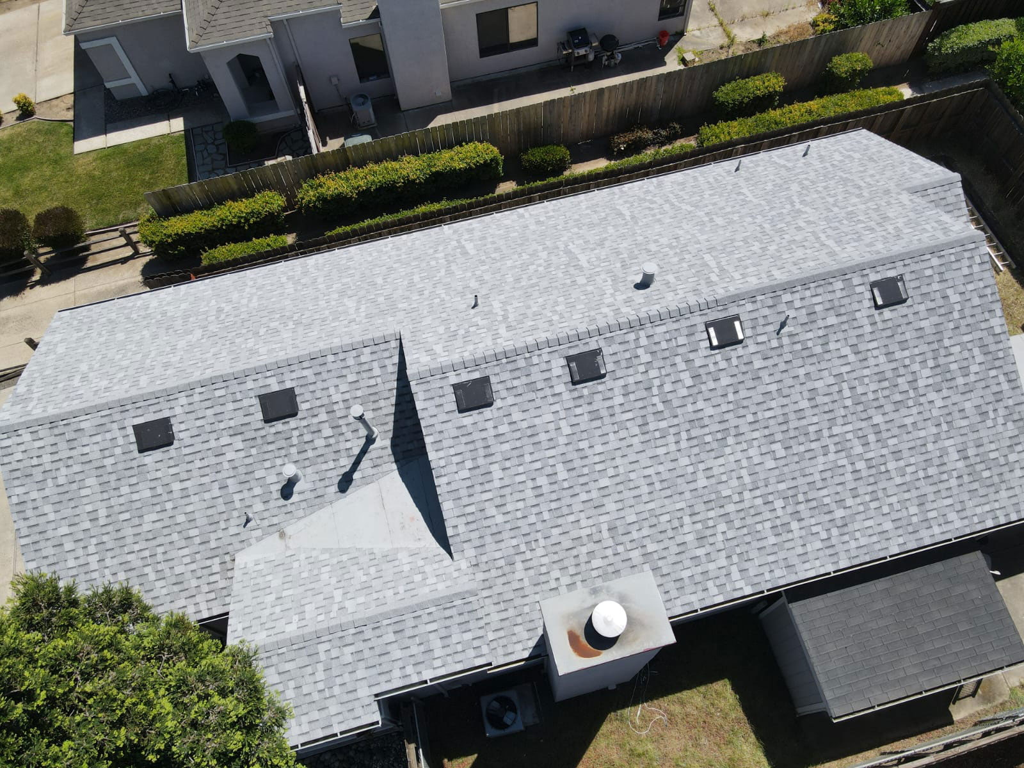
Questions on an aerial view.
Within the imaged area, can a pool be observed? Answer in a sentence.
No, I can't see a single pool in this photo.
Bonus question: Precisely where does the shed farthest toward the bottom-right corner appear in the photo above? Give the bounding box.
[766,550,1024,730]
